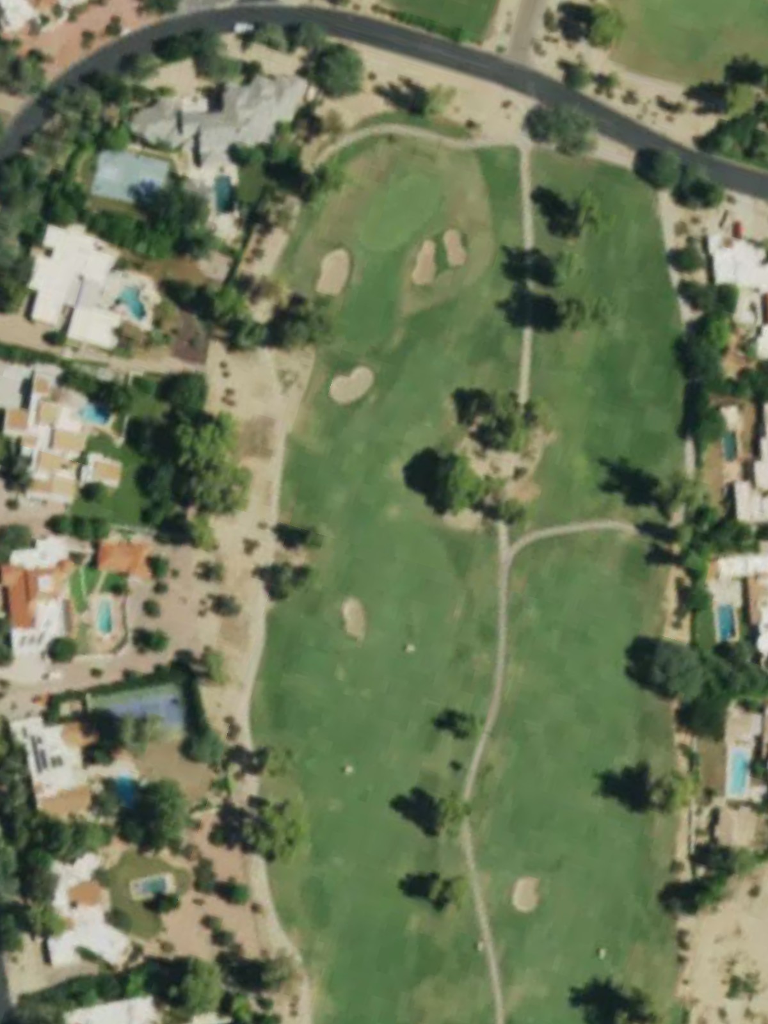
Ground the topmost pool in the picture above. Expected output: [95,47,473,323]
[214,175,236,213]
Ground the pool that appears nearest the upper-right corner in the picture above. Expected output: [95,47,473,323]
[720,428,738,463]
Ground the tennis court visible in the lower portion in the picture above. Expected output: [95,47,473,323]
[86,682,184,748]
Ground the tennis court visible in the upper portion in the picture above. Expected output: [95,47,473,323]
[92,150,170,202]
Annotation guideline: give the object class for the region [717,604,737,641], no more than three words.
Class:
swimming pool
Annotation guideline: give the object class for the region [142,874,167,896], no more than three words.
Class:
swimming pool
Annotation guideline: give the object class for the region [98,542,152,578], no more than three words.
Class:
building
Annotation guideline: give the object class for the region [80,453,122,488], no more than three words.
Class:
house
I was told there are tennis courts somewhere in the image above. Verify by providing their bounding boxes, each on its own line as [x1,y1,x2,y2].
[86,682,184,748]
[92,150,170,202]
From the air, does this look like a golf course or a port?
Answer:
golf course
